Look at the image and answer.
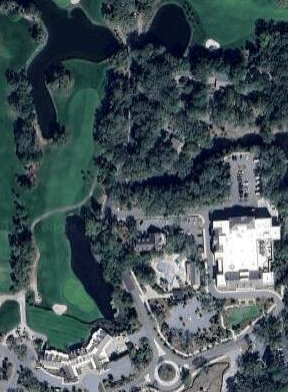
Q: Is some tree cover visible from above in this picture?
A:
Yes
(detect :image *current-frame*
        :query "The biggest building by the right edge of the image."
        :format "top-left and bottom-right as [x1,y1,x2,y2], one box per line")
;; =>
[213,218,281,293]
